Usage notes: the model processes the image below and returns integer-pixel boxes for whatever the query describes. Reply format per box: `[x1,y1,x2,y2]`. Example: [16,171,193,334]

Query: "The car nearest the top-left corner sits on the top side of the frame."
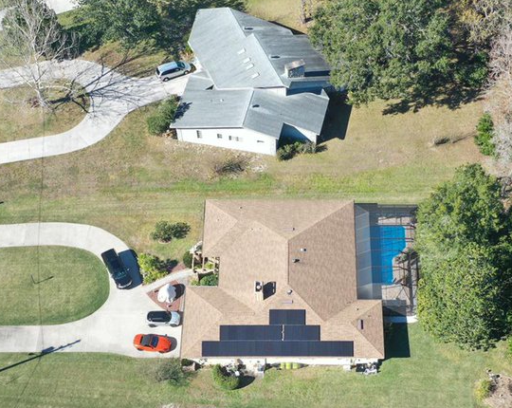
[157,59,191,80]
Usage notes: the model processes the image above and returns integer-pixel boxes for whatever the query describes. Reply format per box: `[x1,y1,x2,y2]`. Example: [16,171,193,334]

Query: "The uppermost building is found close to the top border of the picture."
[170,7,333,150]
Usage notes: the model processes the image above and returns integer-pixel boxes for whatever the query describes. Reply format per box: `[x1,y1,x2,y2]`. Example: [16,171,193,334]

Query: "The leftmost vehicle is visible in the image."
[101,248,133,286]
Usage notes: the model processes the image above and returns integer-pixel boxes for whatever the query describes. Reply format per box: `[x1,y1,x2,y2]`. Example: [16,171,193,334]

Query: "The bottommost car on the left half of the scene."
[132,332,172,352]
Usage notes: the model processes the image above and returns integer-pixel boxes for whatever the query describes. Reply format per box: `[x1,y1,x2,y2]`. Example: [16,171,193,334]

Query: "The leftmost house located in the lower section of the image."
[180,199,385,365]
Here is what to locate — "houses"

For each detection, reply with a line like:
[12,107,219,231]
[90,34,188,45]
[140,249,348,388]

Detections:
[180,199,385,365]
[170,7,333,150]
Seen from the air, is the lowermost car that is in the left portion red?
Yes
